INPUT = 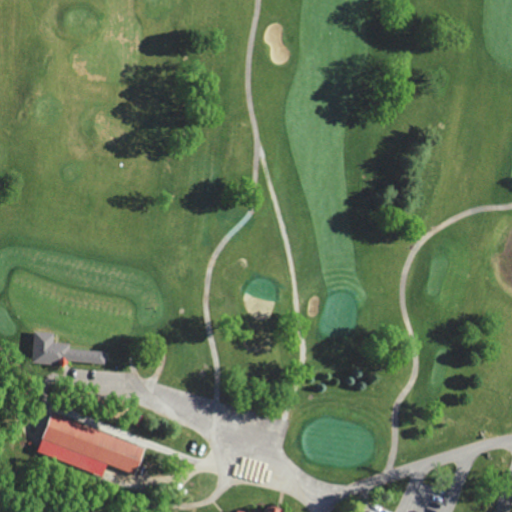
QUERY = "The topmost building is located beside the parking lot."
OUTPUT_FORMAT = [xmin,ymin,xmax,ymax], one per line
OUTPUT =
[32,330,106,368]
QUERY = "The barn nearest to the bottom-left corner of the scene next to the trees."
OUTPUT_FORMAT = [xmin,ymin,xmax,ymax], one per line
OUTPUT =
[36,416,144,481]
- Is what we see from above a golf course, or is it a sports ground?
golf course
